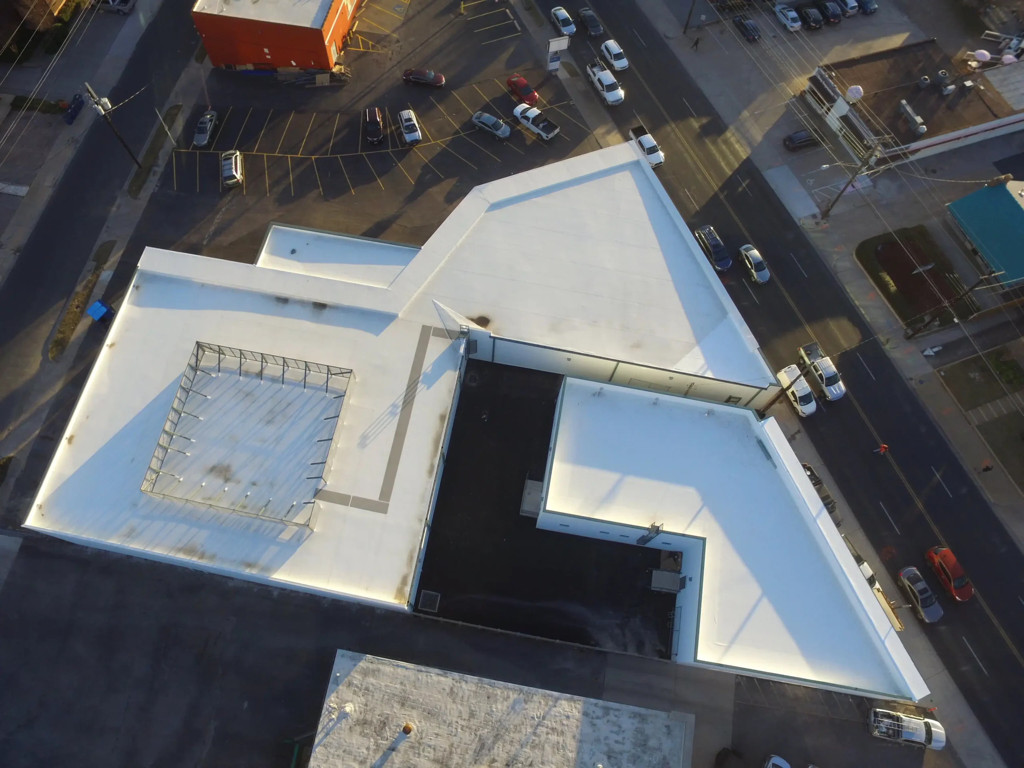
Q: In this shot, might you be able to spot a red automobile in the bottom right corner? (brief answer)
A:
Yes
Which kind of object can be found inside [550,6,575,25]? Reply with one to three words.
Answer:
car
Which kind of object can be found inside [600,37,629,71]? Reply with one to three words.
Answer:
car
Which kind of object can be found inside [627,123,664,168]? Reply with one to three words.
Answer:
truck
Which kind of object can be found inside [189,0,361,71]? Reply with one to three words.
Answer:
building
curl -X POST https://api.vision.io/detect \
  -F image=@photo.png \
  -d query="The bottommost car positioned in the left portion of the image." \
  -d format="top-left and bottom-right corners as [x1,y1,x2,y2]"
[217,149,243,189]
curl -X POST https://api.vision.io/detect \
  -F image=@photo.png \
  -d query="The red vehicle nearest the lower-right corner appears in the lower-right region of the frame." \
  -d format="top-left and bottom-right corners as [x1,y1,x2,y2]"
[929,545,972,602]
